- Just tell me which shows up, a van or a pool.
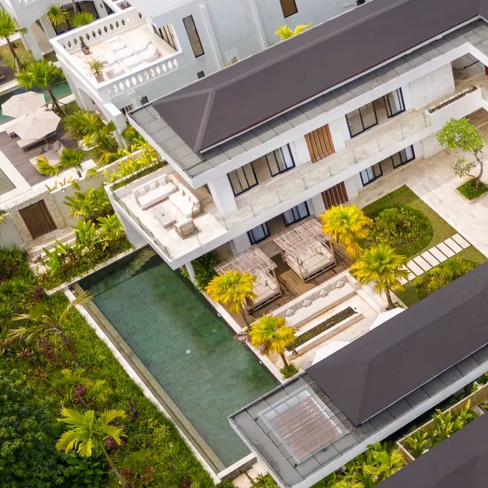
pool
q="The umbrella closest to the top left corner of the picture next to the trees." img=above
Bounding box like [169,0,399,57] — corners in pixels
[0,91,50,121]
